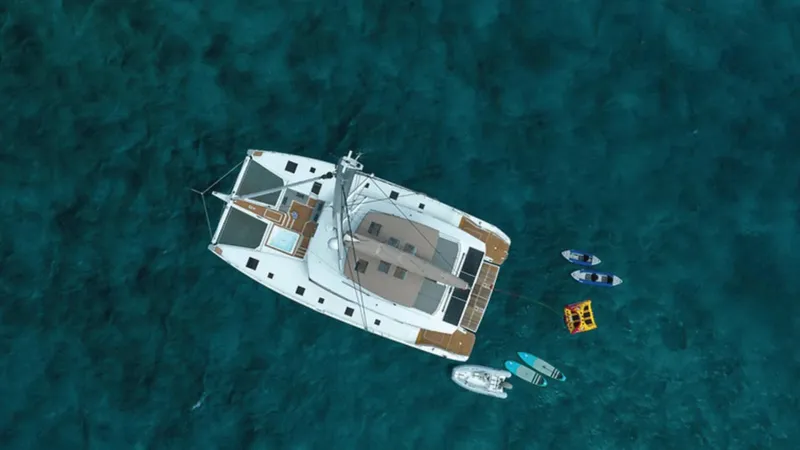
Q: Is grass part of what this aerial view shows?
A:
No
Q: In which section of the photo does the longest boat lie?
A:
center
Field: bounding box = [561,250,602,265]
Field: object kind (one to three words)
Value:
boat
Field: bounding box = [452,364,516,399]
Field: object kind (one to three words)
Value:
boat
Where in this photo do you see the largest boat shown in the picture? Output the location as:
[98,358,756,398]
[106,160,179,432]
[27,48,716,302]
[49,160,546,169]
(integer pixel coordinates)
[206,148,510,359]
